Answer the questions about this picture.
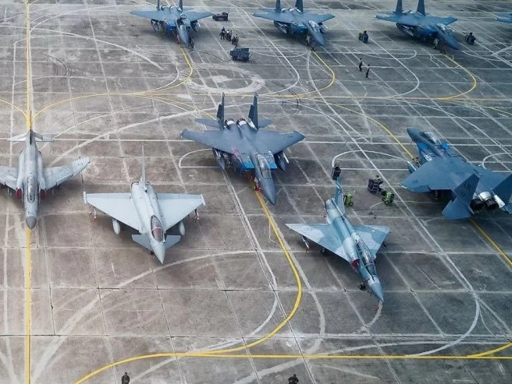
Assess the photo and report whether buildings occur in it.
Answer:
No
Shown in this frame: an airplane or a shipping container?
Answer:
airplane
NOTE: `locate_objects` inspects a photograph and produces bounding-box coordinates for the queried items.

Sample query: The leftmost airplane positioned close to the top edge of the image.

[129,0,211,47]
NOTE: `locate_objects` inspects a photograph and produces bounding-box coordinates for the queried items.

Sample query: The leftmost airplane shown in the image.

[0,130,88,229]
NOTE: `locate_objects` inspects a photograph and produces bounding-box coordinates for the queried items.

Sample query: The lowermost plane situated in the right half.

[286,180,387,308]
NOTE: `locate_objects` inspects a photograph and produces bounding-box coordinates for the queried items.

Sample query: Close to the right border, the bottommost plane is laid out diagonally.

[401,130,512,223]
